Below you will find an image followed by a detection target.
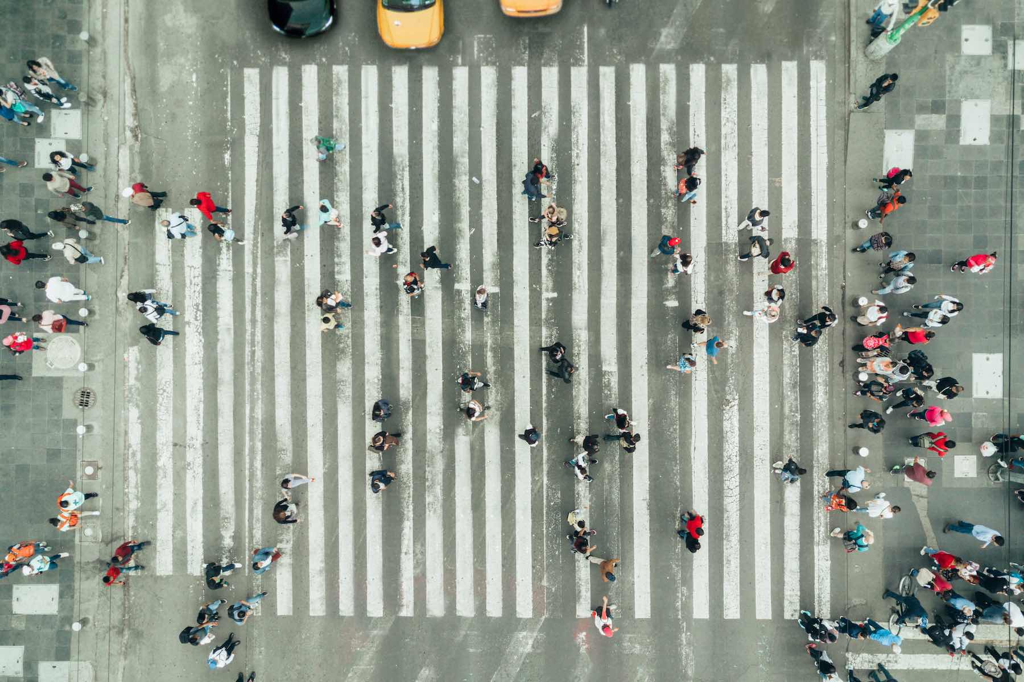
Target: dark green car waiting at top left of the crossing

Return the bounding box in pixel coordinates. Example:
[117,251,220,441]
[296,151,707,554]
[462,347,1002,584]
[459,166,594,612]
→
[266,0,338,41]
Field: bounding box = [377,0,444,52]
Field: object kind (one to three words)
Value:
car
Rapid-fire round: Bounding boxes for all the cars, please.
[266,0,338,41]
[377,0,444,52]
[501,0,561,21]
